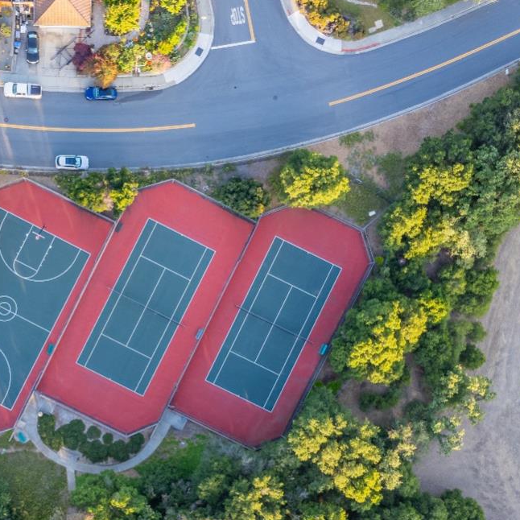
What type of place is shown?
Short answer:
sports ground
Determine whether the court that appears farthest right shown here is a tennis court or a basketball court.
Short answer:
tennis court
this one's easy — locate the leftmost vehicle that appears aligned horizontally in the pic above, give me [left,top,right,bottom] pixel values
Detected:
[3,82,42,99]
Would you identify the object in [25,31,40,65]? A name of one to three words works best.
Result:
car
